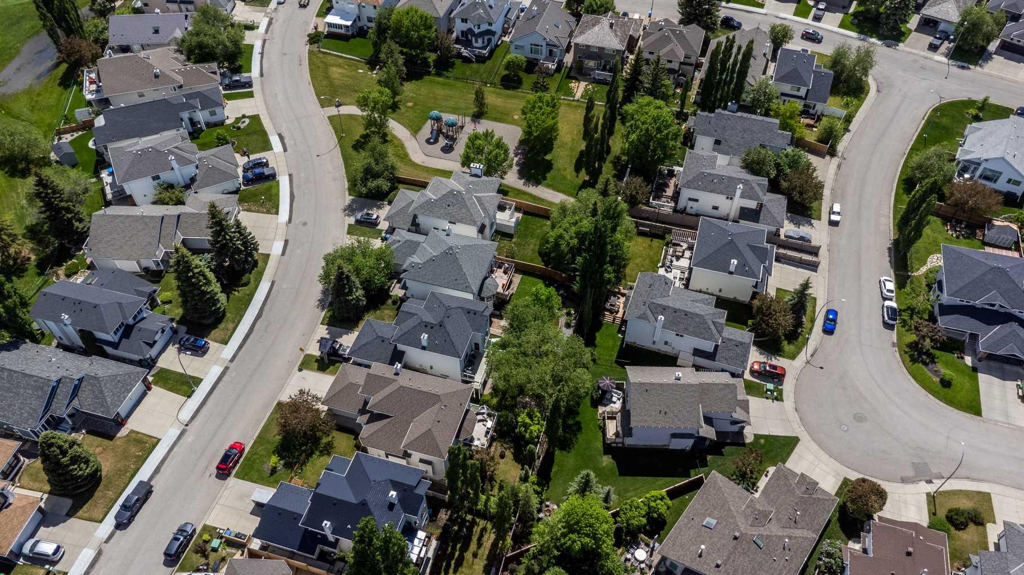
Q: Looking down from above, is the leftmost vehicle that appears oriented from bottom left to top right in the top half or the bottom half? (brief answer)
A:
bottom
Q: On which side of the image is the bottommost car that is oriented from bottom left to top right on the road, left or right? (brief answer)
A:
left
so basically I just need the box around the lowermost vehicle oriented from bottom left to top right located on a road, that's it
[158,519,194,563]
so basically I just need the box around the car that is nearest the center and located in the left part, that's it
[352,210,382,224]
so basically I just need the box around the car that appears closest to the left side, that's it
[19,538,62,562]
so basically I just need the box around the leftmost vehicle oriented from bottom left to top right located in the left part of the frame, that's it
[111,478,152,526]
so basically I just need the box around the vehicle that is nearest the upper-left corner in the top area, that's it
[221,73,251,88]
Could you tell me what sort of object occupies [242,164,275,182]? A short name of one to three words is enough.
vehicle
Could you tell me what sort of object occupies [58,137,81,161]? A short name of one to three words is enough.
shed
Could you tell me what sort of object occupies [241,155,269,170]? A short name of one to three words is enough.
car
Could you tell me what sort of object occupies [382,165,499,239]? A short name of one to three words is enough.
house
